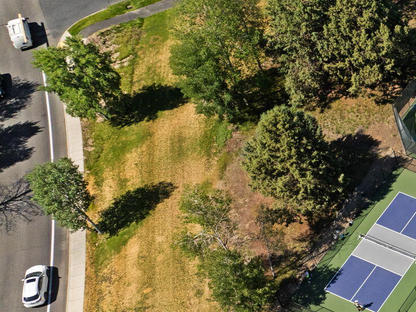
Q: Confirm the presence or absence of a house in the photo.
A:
No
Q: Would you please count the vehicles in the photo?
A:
two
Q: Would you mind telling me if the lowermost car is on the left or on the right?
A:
left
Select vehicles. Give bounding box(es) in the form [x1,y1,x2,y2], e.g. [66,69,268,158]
[7,18,33,48]
[19,264,48,307]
